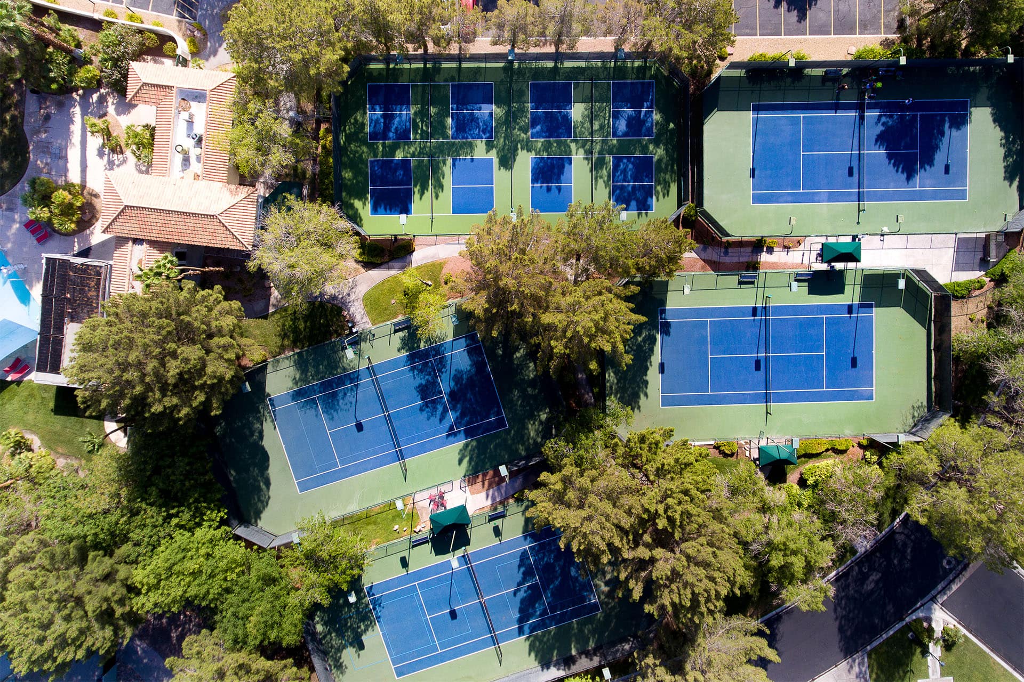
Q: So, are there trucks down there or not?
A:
No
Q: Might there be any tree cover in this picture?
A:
Yes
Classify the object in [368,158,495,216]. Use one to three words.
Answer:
sports court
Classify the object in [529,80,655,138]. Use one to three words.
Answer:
sports court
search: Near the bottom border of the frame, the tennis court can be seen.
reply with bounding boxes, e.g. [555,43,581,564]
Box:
[309,483,657,682]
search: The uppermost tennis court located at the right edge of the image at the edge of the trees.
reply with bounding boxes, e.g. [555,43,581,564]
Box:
[695,68,1019,237]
